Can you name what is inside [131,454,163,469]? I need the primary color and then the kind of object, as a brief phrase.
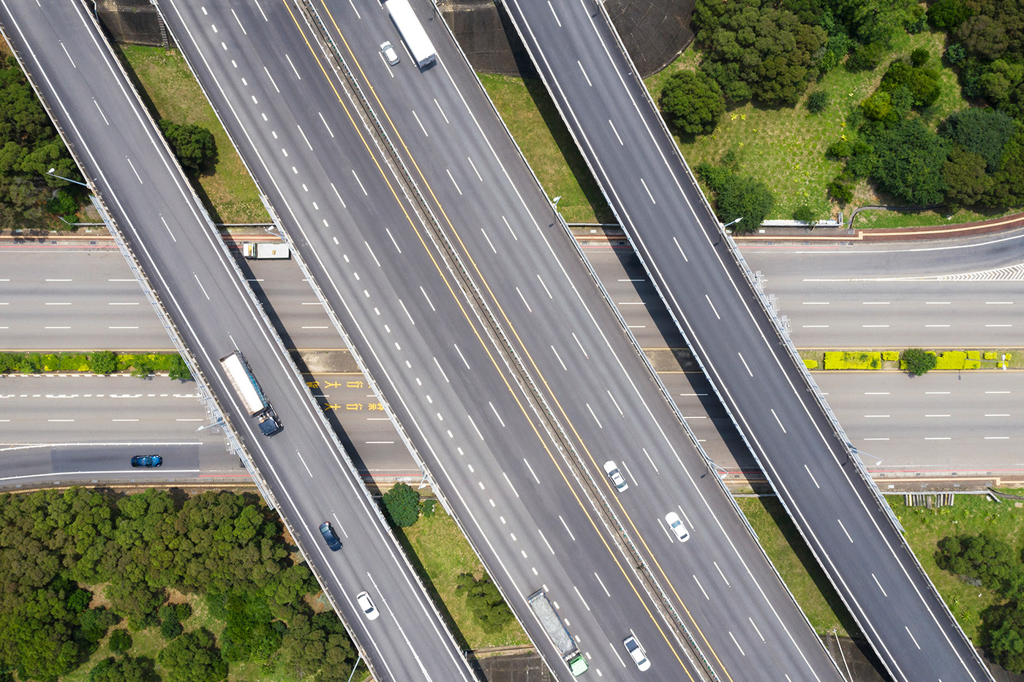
blue car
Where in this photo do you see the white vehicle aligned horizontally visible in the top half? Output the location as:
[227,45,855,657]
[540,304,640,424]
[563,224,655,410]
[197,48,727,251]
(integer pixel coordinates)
[243,242,290,259]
